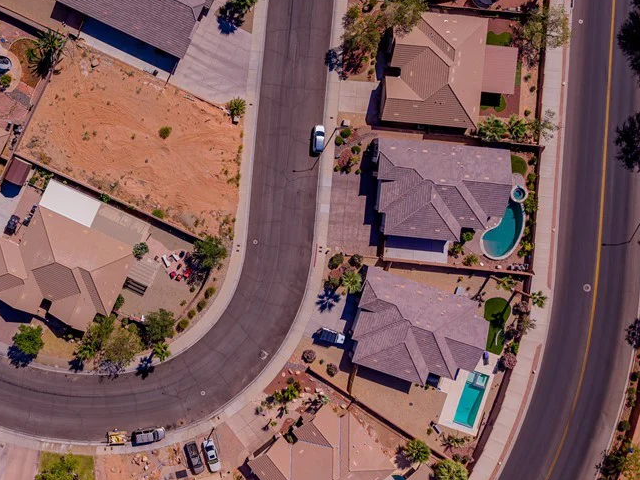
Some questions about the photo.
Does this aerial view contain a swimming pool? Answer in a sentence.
Yes, a swimming pool can be made out from above.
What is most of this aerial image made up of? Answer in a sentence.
The bulk of the photo consists of paved ground.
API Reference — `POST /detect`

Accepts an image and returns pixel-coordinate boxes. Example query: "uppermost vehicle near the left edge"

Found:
[2,213,22,238]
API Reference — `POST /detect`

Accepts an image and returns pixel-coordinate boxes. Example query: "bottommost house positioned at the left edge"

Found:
[0,205,133,331]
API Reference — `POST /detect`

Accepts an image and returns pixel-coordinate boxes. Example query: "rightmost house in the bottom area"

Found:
[351,266,490,386]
